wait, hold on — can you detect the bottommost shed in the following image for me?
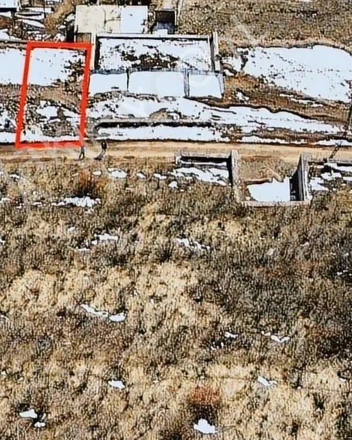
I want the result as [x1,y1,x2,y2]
[84,72,225,101]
